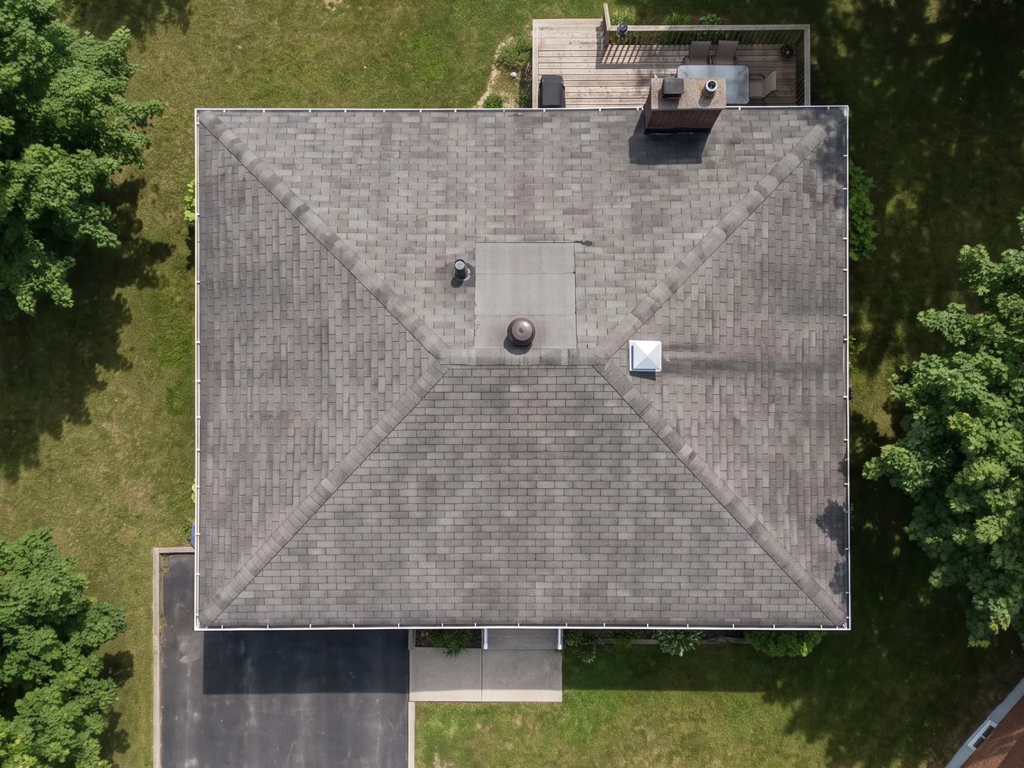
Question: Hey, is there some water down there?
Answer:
No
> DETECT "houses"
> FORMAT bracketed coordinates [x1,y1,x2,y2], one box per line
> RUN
[195,77,850,630]
[948,678,1024,768]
